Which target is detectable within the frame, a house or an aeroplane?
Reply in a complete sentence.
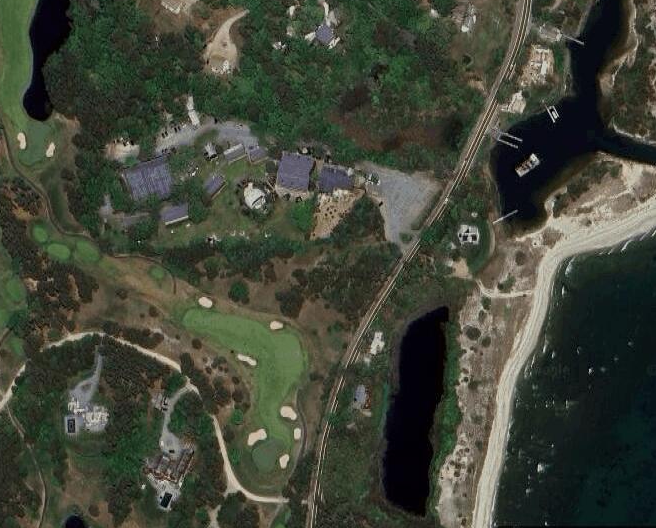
Looking from above, you can make out a house.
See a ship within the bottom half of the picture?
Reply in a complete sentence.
No, no ship is visible within the bottom half of the picture.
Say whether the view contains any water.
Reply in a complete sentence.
Yes, water shows up in the scene.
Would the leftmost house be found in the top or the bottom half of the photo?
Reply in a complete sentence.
The leftmost house is in the bottom half of the image.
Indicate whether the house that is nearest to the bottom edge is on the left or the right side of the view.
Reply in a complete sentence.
You can find the house that is nearest to the bottom edge on the left side of the picture.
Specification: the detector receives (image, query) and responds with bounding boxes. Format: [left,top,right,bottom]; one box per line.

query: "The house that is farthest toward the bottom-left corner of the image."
[65,397,109,433]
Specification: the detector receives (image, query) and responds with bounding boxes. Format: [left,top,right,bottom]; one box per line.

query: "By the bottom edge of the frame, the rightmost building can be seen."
[142,449,198,511]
